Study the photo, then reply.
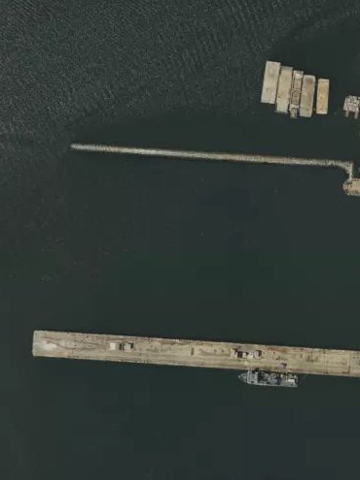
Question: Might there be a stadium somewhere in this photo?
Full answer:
No, the scene contains no stadium.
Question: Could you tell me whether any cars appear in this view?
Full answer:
No, there is no car in the image.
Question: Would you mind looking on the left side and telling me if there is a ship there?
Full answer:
No, the scene shows no ship on the left side.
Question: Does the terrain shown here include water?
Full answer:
Yes, water shows up in the scene.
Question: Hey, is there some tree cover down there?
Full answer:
No, the scene doesn't show any tree cover.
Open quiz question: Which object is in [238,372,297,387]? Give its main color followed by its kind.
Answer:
gray ship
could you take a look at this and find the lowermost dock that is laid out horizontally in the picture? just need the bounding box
[33,330,360,378]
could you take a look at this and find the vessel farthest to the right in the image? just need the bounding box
[316,78,329,114]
